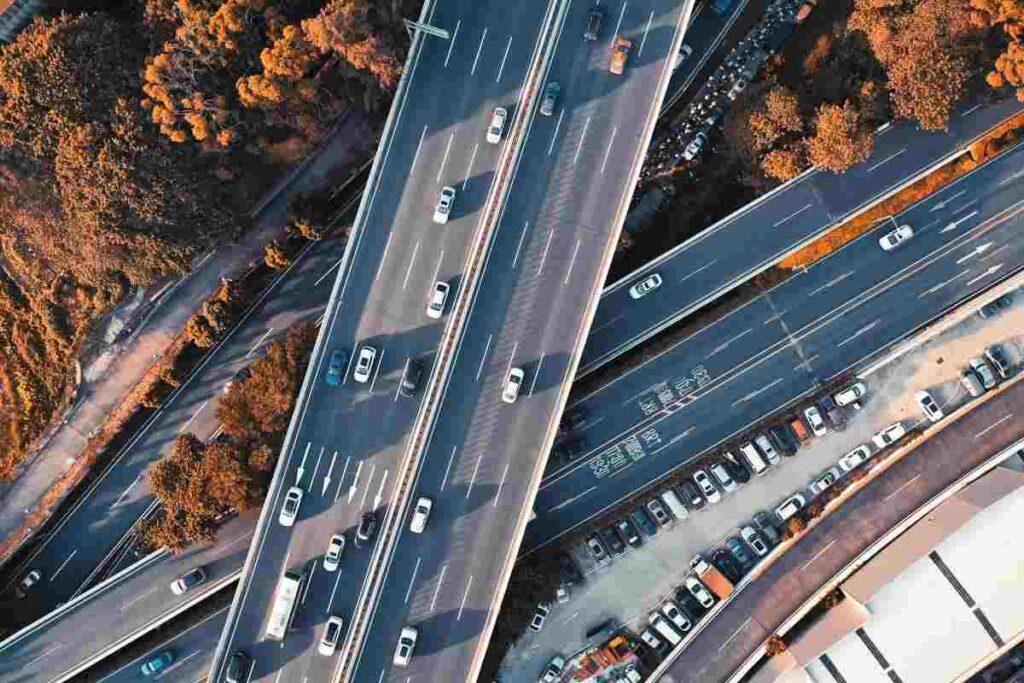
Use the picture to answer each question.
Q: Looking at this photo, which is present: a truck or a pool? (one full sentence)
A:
There is a truck in the scene.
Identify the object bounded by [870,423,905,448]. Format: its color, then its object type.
white car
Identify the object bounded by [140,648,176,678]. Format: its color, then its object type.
blue car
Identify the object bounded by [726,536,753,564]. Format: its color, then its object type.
blue car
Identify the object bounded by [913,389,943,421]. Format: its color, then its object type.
white car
